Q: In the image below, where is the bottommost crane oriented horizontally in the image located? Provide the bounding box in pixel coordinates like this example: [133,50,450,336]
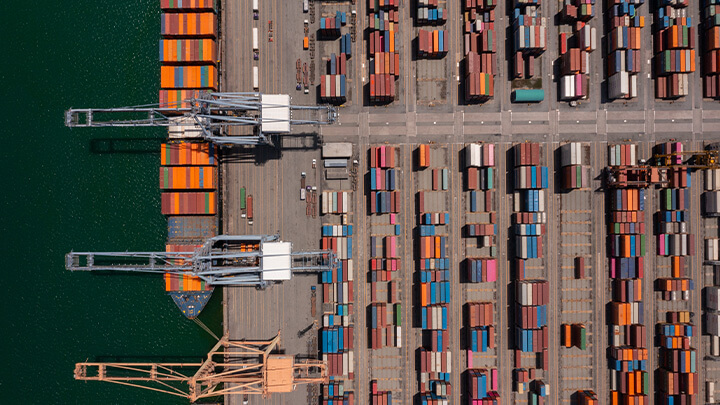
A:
[75,326,328,405]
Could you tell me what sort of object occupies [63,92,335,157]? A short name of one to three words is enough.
container crane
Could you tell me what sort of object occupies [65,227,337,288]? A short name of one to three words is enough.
container crane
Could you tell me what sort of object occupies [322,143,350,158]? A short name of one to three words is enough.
building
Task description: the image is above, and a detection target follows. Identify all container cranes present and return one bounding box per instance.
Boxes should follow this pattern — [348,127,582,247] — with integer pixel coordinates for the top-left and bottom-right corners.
[75,326,328,405]
[598,167,669,187]
[642,151,720,171]
[65,227,337,288]
[63,92,335,157]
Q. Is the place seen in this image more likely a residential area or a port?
port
